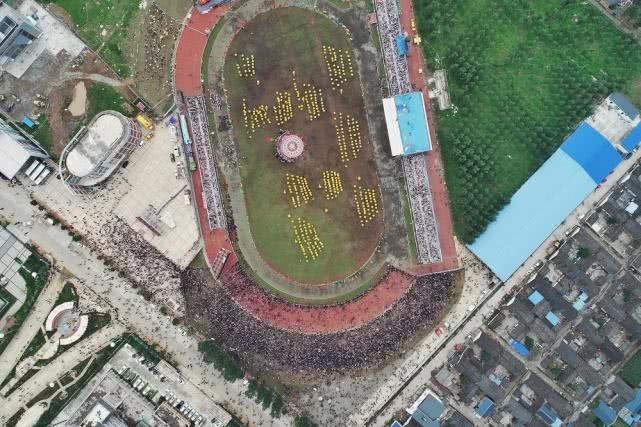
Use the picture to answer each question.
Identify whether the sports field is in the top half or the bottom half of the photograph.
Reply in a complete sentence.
The sports field sits in the top half of the picture.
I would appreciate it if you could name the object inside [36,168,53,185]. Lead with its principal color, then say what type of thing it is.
white vehicle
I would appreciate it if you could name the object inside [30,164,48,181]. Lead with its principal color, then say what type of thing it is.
white vehicle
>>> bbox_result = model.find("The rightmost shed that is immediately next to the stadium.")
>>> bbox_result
[466,148,597,282]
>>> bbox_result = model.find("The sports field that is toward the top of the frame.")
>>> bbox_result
[220,4,387,287]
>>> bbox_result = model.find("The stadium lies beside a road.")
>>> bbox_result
[175,0,464,334]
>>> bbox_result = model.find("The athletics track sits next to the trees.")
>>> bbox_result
[205,0,418,305]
